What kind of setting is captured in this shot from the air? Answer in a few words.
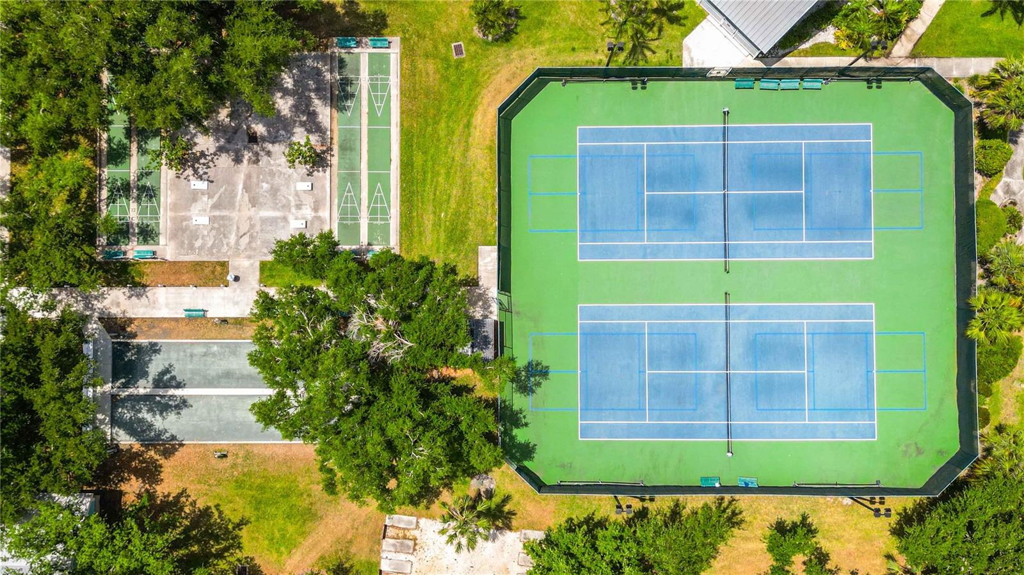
sports ground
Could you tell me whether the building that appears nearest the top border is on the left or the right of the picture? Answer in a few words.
right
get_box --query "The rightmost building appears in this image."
[680,0,822,66]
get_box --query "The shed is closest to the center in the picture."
[466,318,496,356]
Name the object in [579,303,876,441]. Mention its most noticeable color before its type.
blue tennis court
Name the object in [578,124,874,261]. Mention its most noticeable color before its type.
blue tennis court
